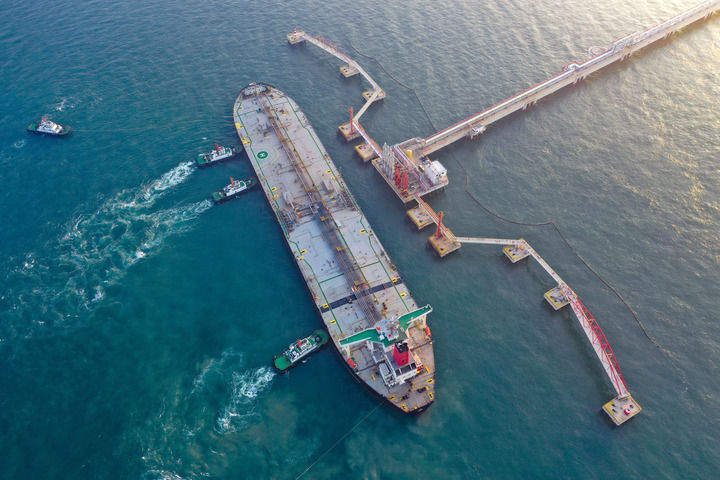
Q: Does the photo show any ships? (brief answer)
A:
Yes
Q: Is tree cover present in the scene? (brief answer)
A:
No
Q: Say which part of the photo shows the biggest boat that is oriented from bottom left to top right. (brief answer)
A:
bottom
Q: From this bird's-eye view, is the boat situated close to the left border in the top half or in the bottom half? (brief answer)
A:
top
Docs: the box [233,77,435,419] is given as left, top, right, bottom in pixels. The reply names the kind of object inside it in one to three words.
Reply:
ship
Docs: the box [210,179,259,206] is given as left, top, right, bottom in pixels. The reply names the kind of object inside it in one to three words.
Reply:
boat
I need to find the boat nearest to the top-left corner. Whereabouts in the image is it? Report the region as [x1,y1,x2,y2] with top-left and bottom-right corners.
[25,114,70,137]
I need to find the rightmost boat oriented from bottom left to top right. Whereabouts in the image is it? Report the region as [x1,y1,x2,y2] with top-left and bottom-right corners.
[271,332,328,373]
